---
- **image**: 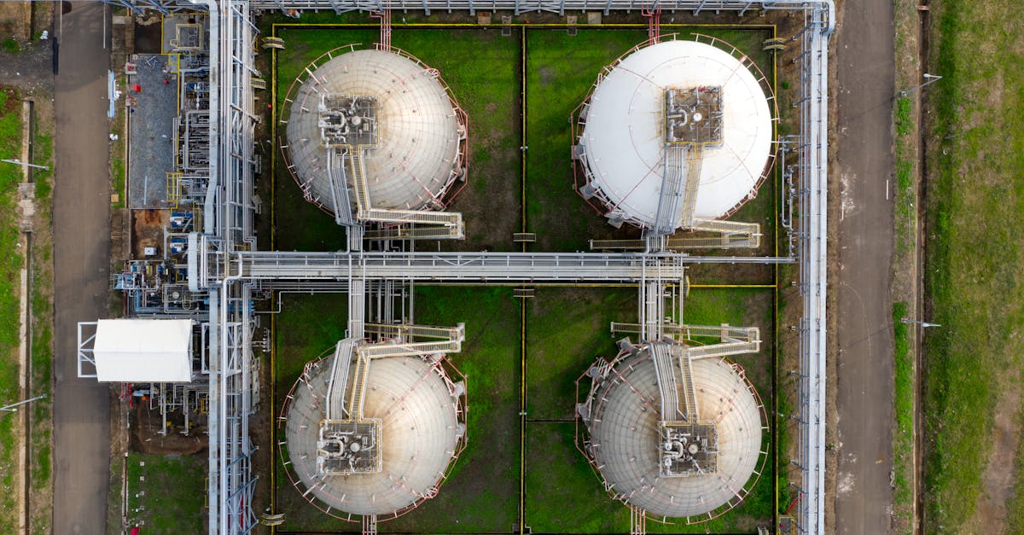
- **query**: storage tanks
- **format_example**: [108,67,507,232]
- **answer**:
[570,327,772,527]
[276,40,473,236]
[276,324,473,525]
[566,31,783,242]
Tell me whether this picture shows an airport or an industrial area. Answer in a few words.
industrial area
